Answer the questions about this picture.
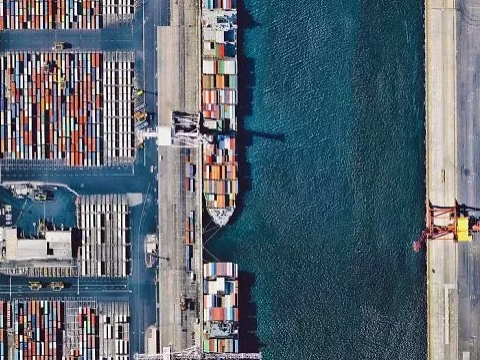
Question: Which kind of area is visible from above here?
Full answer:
This looks like a port.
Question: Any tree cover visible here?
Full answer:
No, tree cover can't be seen anywhere here.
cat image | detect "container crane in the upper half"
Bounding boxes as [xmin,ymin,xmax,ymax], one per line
[140,113,208,152]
